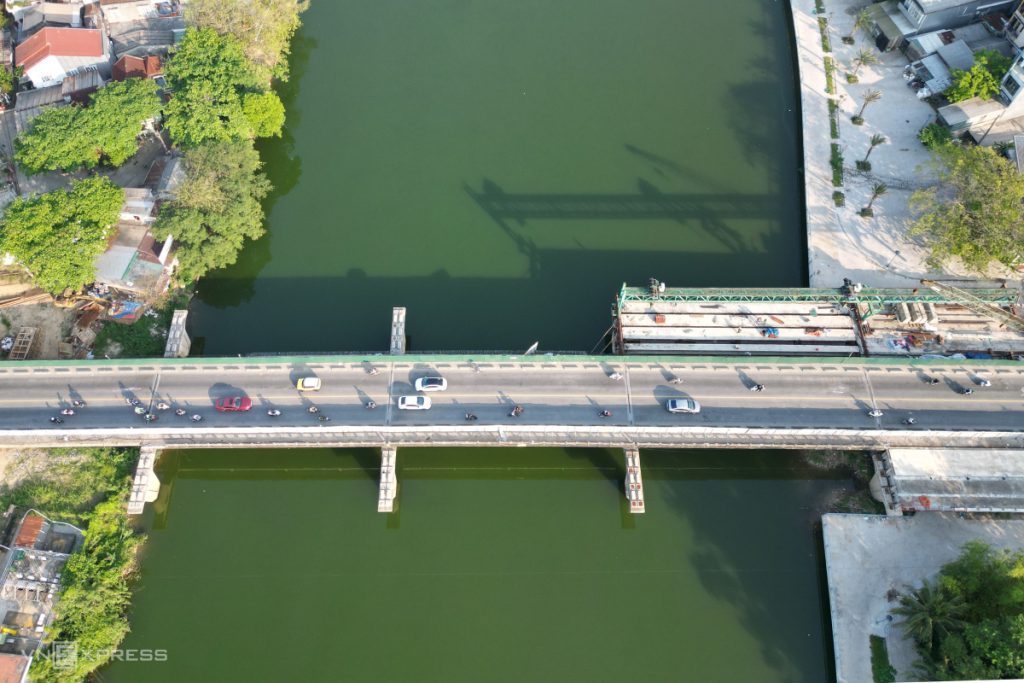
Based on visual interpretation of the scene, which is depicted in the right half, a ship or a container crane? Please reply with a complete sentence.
Looking in the right half, you will find a container crane.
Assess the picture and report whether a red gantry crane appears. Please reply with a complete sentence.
No, this view has no red gantry crane in it.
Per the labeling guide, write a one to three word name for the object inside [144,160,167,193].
shed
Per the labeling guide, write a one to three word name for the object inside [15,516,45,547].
shed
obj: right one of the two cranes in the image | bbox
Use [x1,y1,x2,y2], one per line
[918,274,1024,347]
